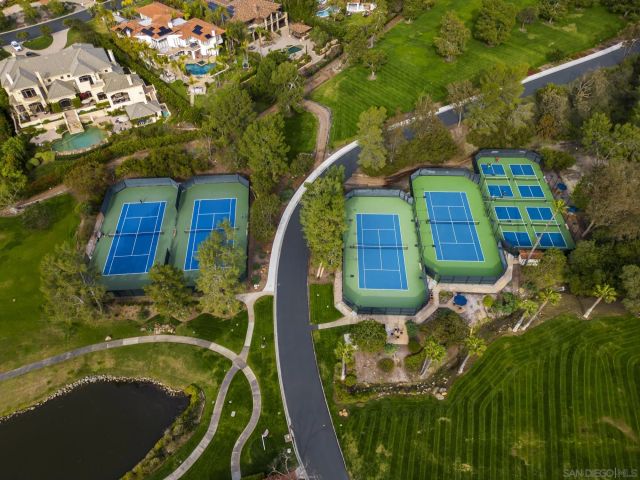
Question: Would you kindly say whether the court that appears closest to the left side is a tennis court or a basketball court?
tennis court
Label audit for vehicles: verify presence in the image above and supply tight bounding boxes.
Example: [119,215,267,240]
[10,42,21,50]
[24,50,38,56]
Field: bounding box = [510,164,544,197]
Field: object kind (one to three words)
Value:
sports court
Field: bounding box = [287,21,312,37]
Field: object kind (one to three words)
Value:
gazebo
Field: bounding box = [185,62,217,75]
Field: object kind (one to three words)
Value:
swimming pool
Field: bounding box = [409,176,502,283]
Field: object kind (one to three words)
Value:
tennis court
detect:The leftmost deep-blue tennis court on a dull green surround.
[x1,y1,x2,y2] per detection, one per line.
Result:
[89,186,179,298]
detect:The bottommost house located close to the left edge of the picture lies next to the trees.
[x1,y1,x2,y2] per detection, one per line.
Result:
[0,38,162,126]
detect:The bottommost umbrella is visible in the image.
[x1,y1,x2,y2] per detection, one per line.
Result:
[452,291,468,304]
